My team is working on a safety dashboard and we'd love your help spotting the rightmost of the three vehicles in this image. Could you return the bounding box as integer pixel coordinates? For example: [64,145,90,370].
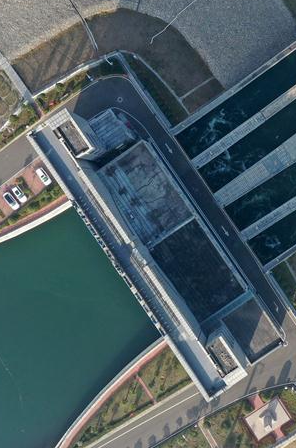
[36,168,52,186]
